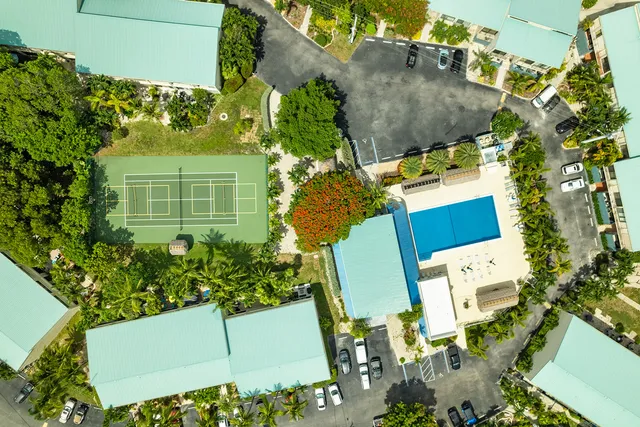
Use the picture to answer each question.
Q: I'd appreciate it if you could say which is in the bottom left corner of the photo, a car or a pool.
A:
car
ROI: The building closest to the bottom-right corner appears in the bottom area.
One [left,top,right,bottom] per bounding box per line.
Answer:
[524,312,640,427]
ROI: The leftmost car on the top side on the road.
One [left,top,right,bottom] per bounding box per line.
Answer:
[404,43,419,69]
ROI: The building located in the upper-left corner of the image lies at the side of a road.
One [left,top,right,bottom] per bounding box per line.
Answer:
[0,0,229,92]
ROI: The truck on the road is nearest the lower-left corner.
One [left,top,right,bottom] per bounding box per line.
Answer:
[10,379,36,406]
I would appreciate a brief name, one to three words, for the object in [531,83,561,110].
vehicle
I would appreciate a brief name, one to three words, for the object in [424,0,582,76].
building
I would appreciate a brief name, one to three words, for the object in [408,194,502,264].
swimming pool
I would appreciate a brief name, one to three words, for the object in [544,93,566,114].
car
